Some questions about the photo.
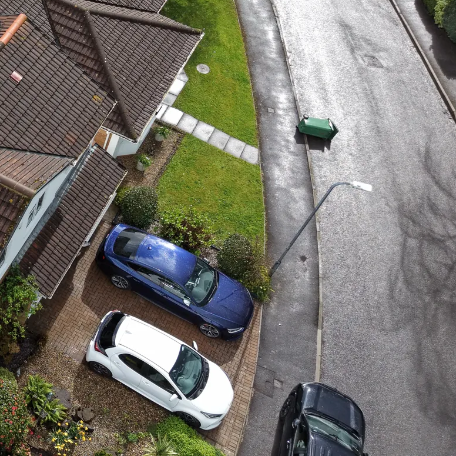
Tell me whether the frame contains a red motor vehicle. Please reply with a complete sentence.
No, the picture doesn't show any red motor vehicle.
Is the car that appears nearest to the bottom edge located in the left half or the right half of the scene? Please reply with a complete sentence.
You can find the car that appears nearest to the bottom edge on the right side of the picture.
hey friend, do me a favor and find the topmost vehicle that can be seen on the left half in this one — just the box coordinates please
[94,225,258,343]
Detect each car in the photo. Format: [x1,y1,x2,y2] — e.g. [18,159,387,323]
[85,311,240,432]
[278,376,382,456]
[94,225,258,343]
